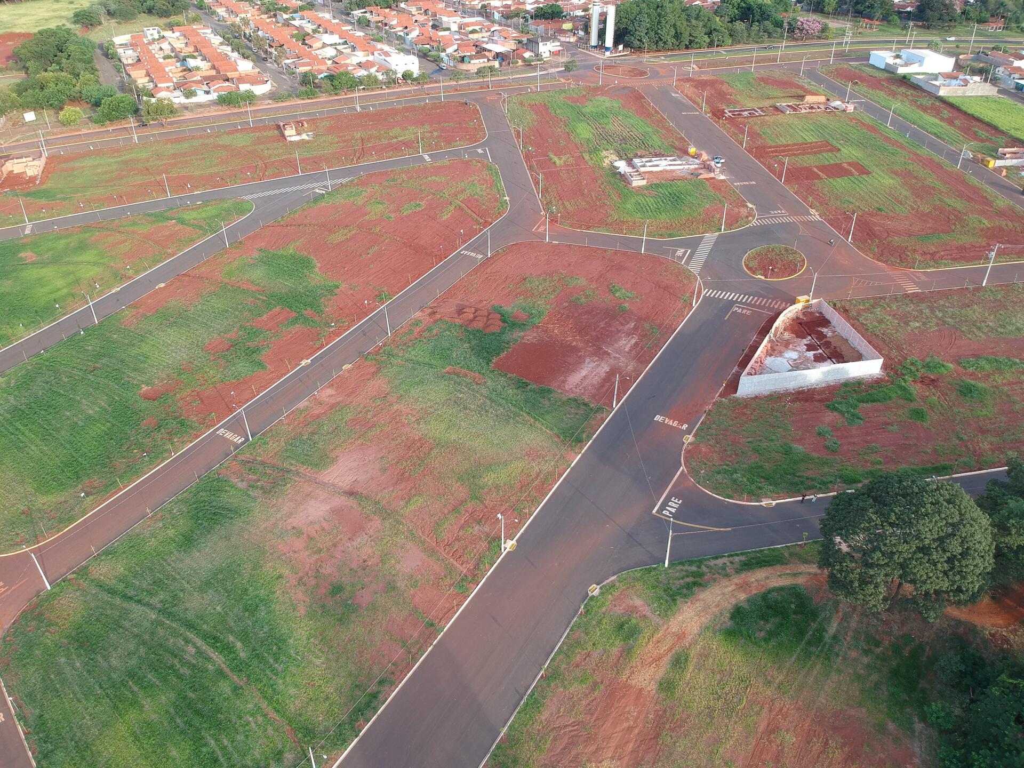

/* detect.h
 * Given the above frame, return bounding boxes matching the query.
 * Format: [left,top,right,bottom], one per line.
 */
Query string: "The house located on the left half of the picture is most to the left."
[1,157,44,185]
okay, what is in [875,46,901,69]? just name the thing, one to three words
building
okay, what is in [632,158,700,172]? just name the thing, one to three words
house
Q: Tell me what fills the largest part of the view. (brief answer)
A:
paved ground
